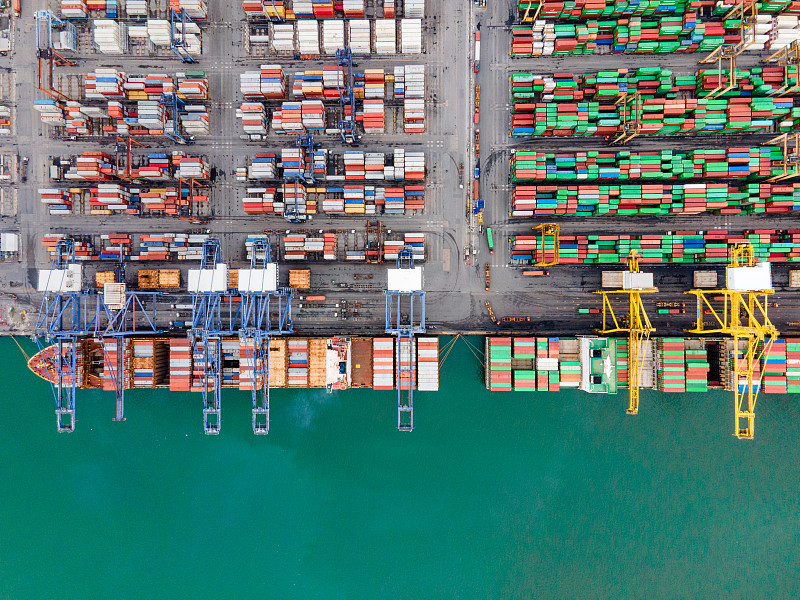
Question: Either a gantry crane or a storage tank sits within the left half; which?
gantry crane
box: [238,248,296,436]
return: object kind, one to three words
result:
container crane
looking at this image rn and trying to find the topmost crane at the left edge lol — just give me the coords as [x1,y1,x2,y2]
[35,11,78,68]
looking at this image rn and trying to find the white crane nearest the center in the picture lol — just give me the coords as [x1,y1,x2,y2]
[385,248,427,432]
